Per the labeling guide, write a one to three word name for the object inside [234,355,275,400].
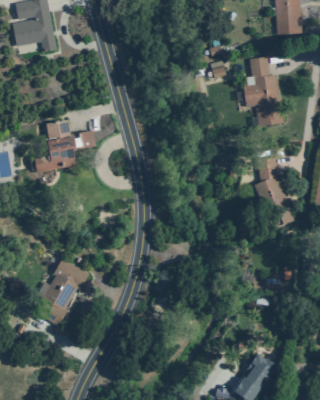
house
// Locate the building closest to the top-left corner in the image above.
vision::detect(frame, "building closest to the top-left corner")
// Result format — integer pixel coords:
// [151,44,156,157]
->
[12,0,56,52]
